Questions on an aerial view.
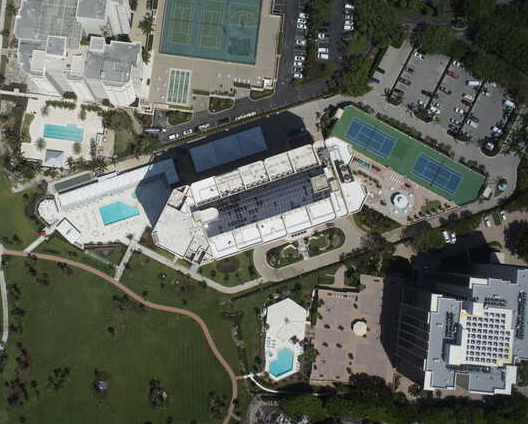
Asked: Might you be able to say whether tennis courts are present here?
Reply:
Yes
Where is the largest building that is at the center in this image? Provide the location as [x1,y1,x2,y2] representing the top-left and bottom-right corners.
[152,137,367,265]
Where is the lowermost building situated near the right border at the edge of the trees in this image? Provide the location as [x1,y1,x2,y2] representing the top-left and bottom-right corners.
[395,259,528,393]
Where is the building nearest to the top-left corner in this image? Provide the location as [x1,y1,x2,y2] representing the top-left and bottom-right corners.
[14,0,142,104]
